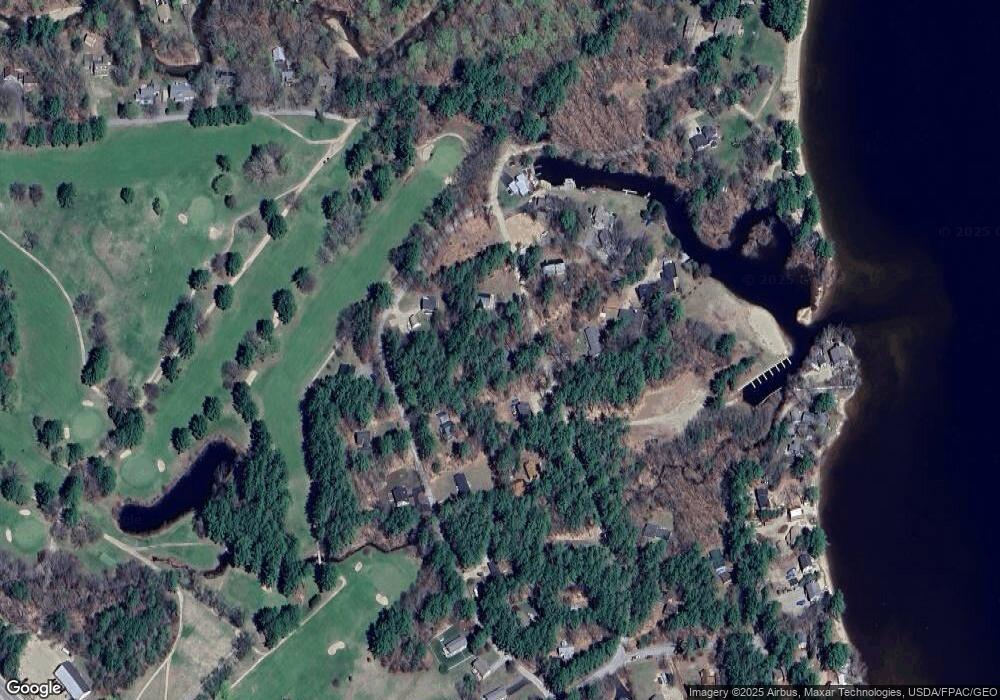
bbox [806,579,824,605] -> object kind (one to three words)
house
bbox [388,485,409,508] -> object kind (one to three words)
house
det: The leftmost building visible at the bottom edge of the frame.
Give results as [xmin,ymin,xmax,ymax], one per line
[54,661,91,700]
